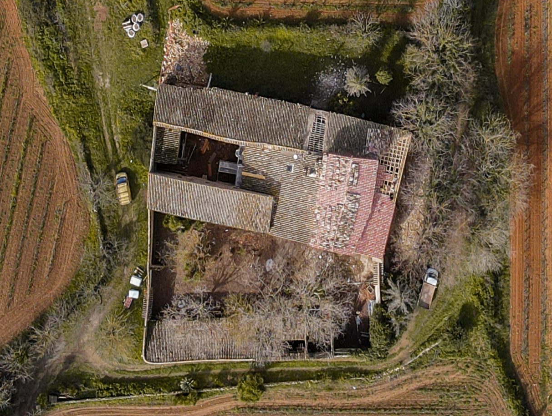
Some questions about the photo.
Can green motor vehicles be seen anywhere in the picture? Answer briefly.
No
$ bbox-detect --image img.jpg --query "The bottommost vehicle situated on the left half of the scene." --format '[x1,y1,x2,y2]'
[123,288,140,308]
